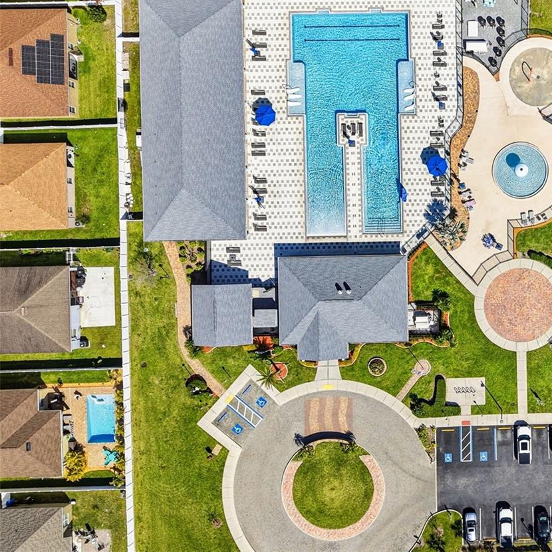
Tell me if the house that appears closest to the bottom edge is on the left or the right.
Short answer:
left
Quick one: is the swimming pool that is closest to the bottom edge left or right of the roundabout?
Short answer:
left of it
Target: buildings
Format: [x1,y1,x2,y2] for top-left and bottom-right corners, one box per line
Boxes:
[0,142,77,231]
[0,389,73,478]
[127,0,247,241]
[0,504,73,552]
[0,266,80,353]
[191,283,258,346]
[278,255,410,363]
[0,8,78,117]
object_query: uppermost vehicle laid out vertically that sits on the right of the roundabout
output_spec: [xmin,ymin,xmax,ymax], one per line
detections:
[517,424,532,465]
